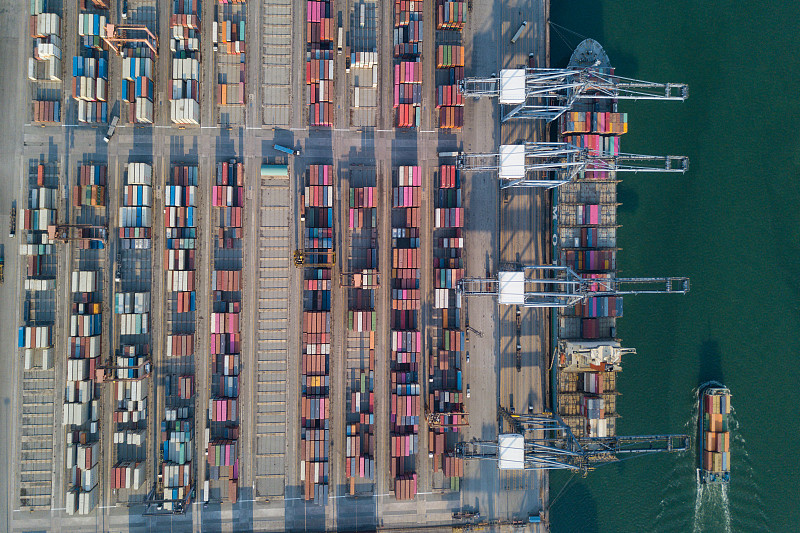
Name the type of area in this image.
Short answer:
port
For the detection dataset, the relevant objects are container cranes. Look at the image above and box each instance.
[337,270,381,290]
[461,263,693,309]
[461,399,695,467]
[423,402,470,429]
[141,484,199,517]
[461,140,691,202]
[291,249,338,270]
[102,24,161,59]
[461,67,691,140]
[46,223,110,245]
[94,359,155,383]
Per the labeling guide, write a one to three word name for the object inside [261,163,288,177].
shed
